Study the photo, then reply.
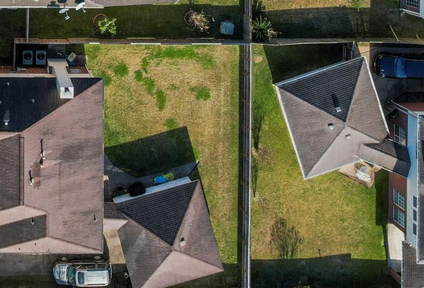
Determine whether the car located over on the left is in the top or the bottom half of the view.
bottom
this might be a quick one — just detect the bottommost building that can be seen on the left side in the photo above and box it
[105,175,225,288]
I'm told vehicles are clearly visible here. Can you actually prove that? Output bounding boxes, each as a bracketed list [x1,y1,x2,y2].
[369,52,424,82]
[51,255,113,287]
